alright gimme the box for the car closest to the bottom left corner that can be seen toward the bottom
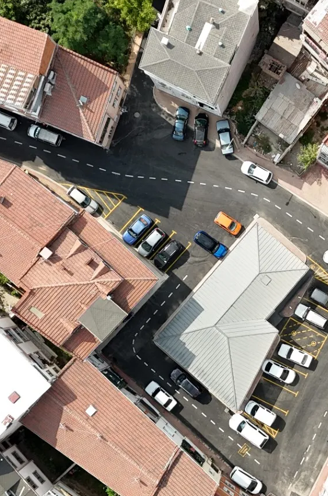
[145,378,178,413]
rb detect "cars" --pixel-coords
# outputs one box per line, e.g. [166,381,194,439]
[242,399,279,428]
[229,413,270,448]
[145,378,178,413]
[211,209,246,237]
[228,465,265,494]
[123,211,155,247]
[277,343,314,368]
[169,366,203,401]
[0,111,19,132]
[306,286,328,312]
[192,111,209,149]
[171,105,190,143]
[240,160,275,185]
[293,302,328,330]
[260,360,299,385]
[192,229,229,259]
[154,237,186,271]
[66,186,101,216]
[217,119,235,156]
[136,226,167,258]
[26,123,64,148]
